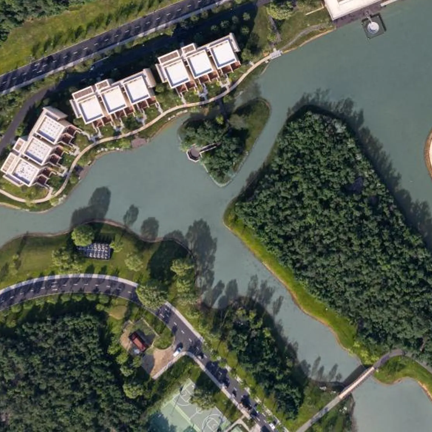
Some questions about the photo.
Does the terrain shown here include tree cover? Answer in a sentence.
Yes, the picture does contain tree cover.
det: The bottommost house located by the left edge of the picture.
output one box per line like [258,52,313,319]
[1,152,54,187]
